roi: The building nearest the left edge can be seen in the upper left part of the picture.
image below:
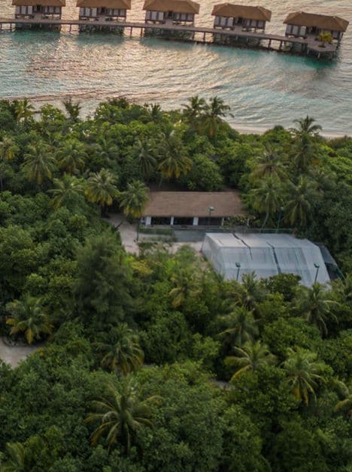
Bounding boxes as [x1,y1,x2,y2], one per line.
[12,0,65,24]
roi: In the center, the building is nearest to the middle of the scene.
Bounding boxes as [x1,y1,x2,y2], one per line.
[135,191,251,228]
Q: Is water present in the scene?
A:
Yes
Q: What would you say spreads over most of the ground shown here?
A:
trees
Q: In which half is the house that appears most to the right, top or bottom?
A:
top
